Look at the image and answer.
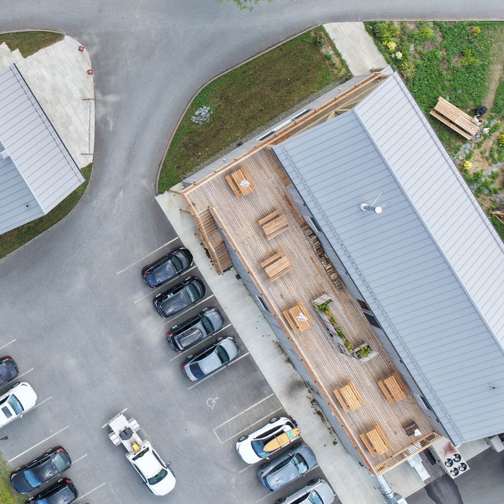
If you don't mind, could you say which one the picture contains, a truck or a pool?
truck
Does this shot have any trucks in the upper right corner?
No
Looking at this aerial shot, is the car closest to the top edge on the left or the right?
left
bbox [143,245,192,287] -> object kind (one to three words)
car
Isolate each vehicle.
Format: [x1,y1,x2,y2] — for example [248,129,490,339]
[276,479,335,504]
[0,356,18,387]
[260,443,318,492]
[154,275,205,318]
[167,306,223,353]
[0,380,38,430]
[26,477,77,504]
[237,417,299,463]
[12,448,70,493]
[106,411,179,498]
[143,245,192,287]
[181,335,238,382]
